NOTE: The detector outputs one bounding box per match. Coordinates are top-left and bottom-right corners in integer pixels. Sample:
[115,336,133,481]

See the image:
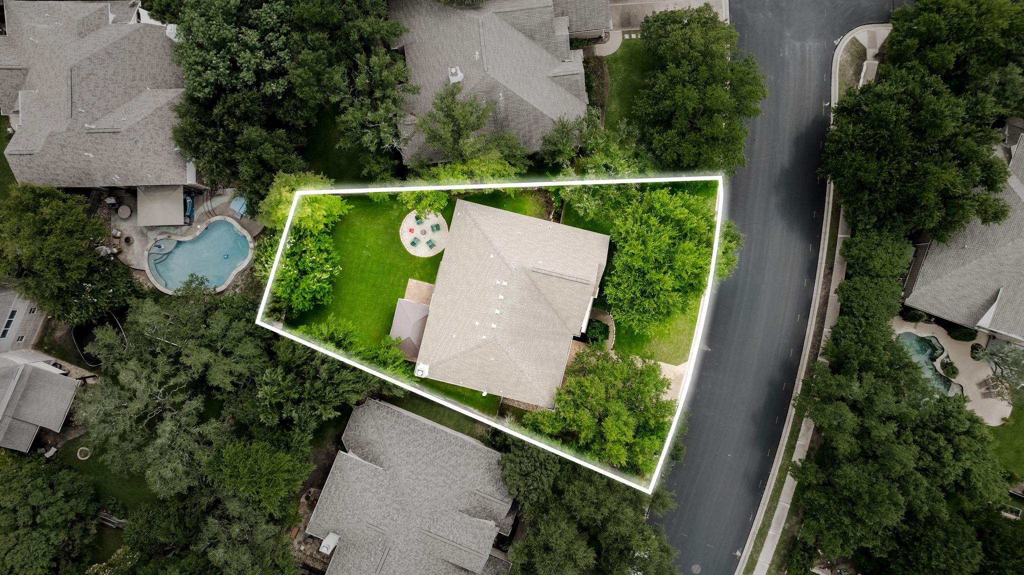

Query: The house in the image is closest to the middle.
[414,199,611,411]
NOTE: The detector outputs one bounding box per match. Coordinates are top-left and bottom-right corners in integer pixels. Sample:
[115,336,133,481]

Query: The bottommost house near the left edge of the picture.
[0,282,96,454]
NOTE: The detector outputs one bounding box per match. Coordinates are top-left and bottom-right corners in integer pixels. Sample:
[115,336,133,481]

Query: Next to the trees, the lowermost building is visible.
[306,400,513,575]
